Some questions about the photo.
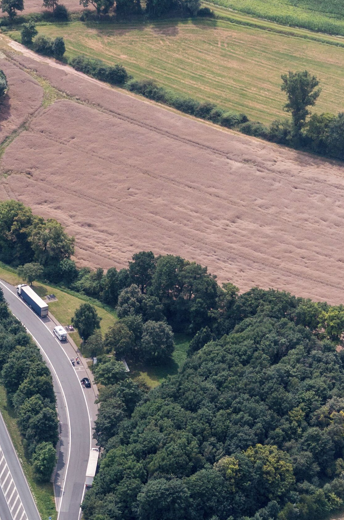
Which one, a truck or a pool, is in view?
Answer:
truck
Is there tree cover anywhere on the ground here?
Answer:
Yes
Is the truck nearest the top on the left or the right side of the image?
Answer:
left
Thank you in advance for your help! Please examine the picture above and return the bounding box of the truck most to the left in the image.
[13,283,48,316]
